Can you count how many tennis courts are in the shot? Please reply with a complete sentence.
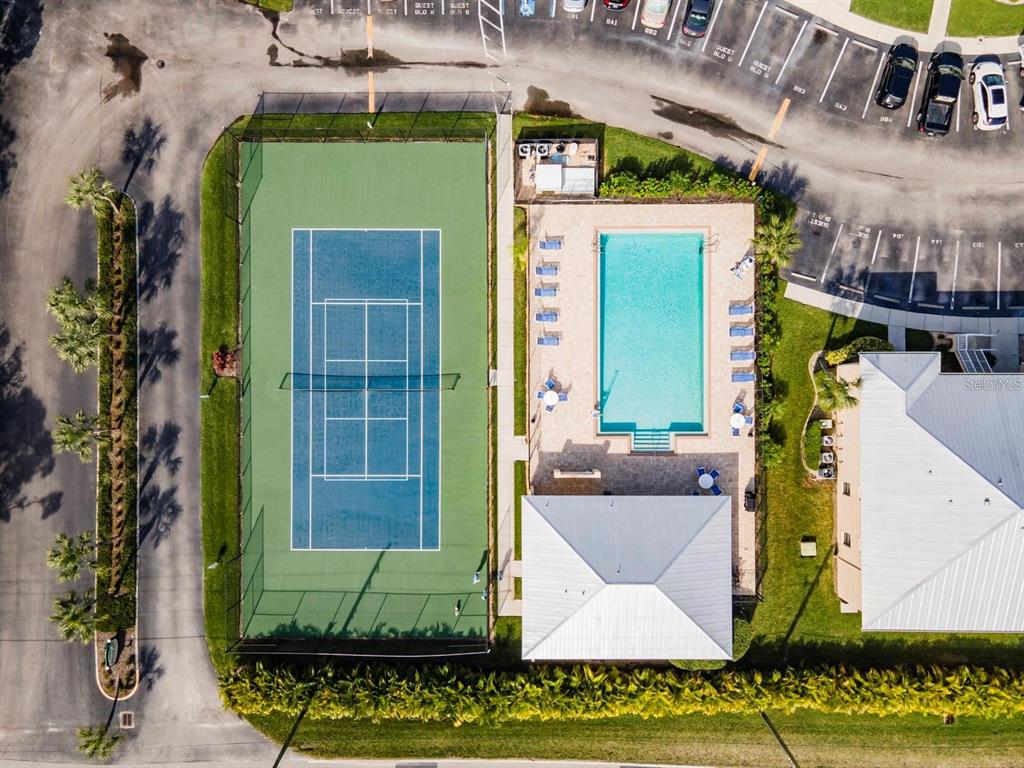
The count comes to 1 tennis court.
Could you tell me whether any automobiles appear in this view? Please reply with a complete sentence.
Yes, the frame does contain an automobile.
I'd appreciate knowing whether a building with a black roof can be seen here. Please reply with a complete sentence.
No, I find no building with a black roof anywhere in the image.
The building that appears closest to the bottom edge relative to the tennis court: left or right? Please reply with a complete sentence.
The building that appears closest to the bottom edge appears to the right of the tennis court in this view.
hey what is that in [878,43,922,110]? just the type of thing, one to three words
car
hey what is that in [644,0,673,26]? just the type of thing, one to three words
car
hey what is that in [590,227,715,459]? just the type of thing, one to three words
swimming pool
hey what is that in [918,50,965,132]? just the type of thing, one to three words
truck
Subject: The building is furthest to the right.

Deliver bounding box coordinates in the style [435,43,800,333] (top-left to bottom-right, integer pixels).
[834,352,1024,634]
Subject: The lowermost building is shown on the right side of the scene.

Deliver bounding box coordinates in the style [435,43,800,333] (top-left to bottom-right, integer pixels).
[521,495,733,662]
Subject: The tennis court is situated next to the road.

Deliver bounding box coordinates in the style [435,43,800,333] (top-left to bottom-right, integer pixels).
[241,141,488,639]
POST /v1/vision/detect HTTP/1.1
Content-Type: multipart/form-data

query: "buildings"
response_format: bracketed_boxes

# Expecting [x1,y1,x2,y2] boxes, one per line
[564,168,594,194]
[834,352,1024,634]
[536,165,561,194]
[521,495,733,662]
